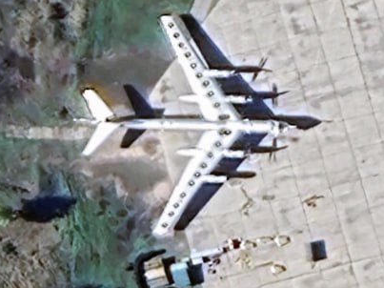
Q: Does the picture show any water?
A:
No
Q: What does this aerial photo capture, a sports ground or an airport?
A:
airport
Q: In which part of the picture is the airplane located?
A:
center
